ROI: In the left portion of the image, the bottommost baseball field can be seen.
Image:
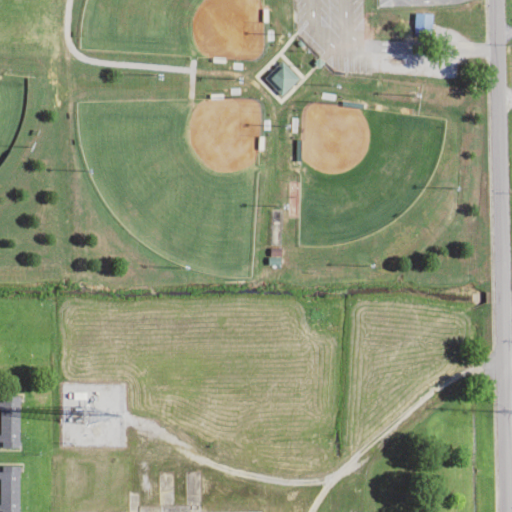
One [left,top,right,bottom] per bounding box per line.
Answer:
[76,98,265,280]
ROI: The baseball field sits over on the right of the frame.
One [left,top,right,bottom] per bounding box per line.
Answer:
[299,102,447,248]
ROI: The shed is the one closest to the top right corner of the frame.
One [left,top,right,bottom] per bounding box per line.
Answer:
[414,13,434,34]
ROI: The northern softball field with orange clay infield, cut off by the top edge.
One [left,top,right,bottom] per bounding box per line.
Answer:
[80,0,268,61]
